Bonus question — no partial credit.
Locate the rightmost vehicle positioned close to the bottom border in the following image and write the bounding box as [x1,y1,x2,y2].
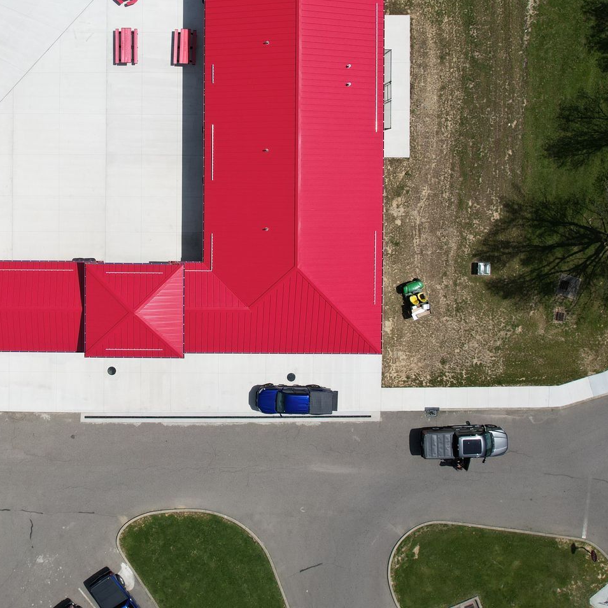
[91,569,141,608]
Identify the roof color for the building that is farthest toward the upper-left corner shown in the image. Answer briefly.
red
